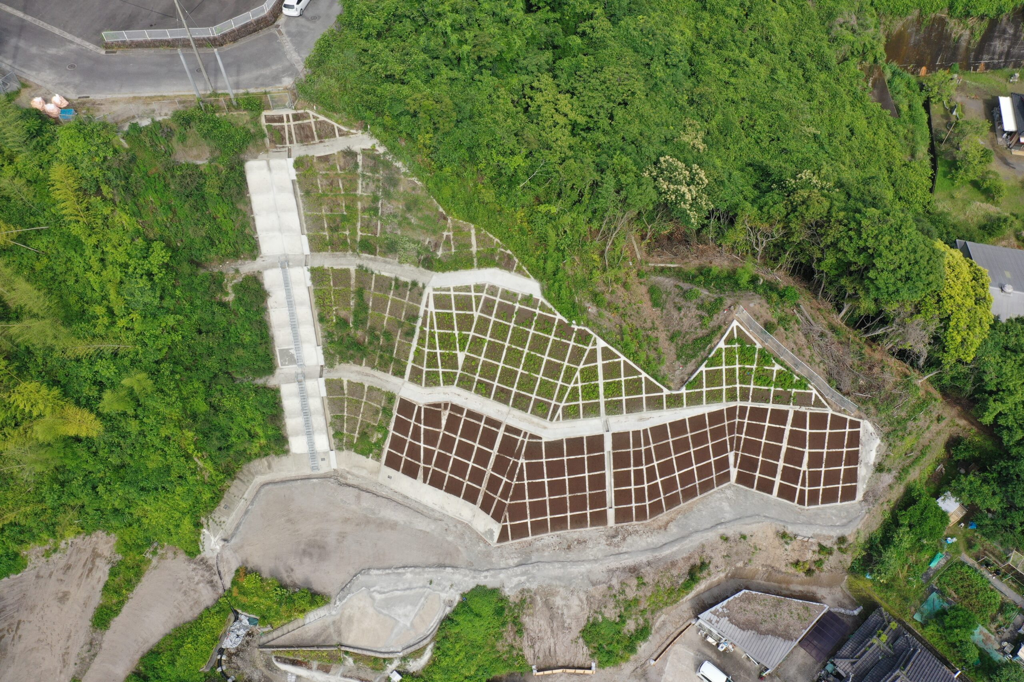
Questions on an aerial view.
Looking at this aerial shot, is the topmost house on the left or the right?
right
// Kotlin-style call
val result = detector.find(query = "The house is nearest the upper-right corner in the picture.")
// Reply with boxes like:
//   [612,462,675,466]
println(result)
[994,92,1024,158]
